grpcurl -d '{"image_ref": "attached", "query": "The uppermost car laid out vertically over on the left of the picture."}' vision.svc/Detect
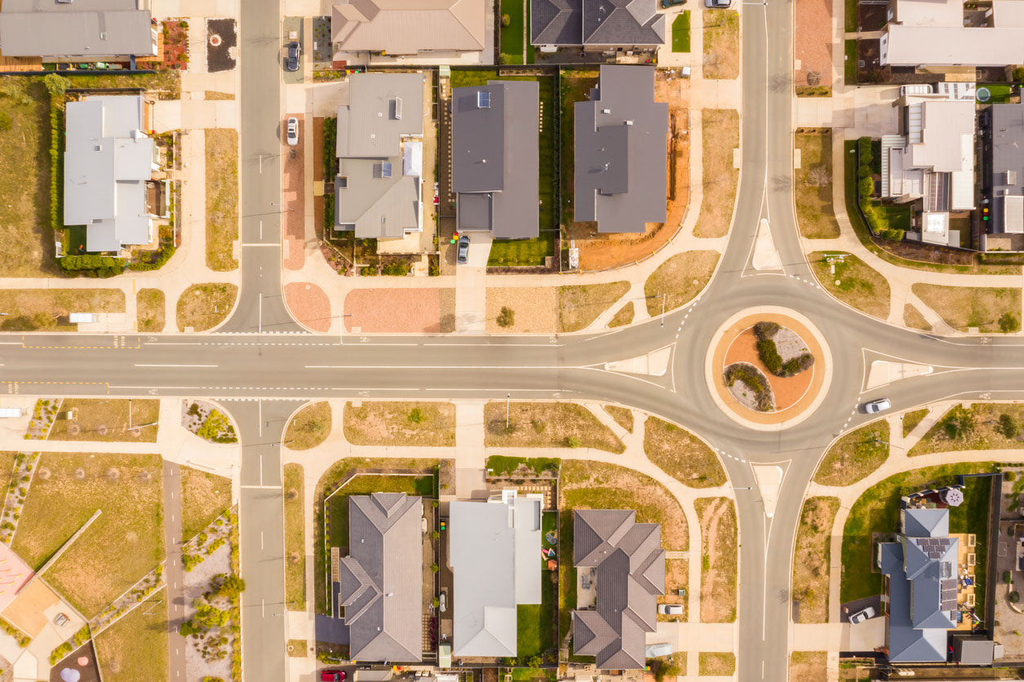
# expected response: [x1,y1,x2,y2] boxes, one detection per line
[287,40,301,71]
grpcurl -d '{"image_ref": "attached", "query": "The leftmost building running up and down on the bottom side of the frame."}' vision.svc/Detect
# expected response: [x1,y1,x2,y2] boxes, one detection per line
[340,492,422,662]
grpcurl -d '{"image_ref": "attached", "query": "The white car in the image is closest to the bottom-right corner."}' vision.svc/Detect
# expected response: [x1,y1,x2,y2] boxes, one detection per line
[847,606,875,625]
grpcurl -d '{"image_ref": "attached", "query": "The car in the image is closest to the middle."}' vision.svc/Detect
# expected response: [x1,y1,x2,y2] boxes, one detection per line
[456,236,469,264]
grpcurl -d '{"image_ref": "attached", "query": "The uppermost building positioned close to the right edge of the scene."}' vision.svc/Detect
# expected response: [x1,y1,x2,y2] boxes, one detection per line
[871,0,1024,74]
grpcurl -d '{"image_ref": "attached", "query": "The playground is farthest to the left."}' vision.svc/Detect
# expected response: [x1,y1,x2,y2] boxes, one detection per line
[0,544,32,605]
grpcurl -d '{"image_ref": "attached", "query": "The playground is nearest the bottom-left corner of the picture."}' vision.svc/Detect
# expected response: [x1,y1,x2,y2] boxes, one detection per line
[50,643,96,682]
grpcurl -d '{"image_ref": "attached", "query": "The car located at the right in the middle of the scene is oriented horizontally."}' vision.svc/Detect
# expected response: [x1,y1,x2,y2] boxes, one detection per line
[863,399,892,414]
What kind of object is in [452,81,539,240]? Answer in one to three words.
house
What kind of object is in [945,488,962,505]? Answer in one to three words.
umbrella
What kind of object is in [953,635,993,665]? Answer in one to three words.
shed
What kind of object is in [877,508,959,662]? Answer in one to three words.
house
